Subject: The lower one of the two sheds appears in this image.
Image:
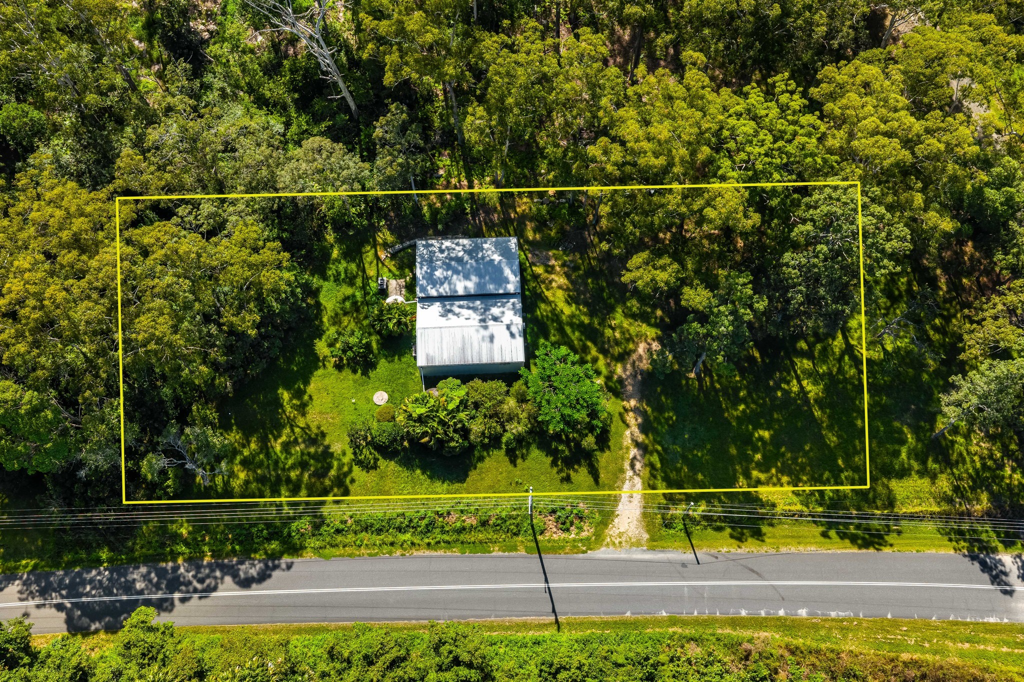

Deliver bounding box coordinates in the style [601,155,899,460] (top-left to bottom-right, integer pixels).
[416,293,526,391]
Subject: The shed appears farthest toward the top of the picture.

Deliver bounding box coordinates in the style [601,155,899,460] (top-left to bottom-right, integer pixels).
[416,236,520,299]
